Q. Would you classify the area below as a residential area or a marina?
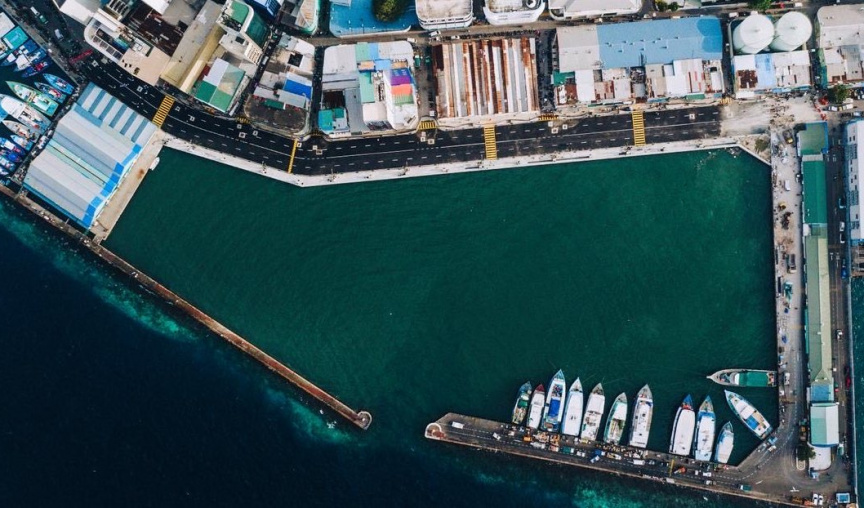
marina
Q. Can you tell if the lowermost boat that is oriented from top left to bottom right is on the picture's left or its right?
right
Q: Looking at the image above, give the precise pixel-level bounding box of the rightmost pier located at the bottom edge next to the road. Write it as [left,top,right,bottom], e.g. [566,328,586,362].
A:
[424,412,745,496]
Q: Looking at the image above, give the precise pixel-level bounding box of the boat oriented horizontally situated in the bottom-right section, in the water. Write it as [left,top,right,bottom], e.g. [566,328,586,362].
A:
[702,370,777,386]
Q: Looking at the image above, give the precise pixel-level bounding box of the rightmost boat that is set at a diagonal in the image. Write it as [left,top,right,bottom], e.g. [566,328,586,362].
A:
[721,386,771,436]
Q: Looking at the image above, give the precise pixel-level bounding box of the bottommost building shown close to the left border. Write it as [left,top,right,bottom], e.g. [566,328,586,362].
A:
[23,81,162,228]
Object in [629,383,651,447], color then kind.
white boat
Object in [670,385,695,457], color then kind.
white boat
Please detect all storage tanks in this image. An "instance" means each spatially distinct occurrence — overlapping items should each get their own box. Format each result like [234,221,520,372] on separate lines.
[732,14,775,55]
[768,10,813,53]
